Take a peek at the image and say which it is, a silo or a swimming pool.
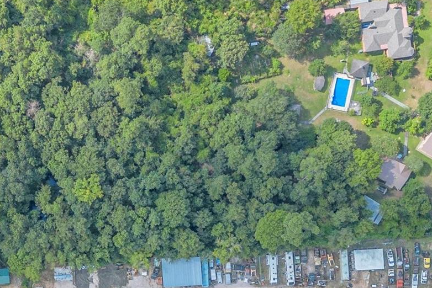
swimming pool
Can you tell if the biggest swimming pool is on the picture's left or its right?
right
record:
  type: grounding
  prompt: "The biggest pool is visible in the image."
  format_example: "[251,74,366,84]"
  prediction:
[325,72,355,113]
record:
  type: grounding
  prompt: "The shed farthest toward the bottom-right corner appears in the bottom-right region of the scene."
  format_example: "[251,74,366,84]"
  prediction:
[352,248,384,270]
